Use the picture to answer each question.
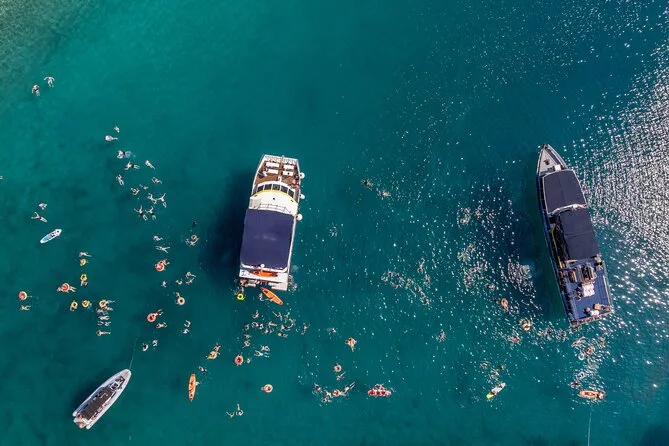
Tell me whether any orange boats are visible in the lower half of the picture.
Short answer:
Yes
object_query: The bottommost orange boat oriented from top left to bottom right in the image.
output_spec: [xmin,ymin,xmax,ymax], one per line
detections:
[261,288,283,305]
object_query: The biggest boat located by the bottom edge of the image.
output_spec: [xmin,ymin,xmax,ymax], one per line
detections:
[69,370,131,432]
